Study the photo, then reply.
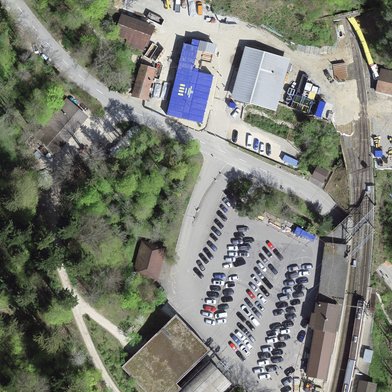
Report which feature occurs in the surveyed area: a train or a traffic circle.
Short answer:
train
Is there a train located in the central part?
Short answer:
No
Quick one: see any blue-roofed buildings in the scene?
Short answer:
Yes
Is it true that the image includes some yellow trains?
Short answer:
Yes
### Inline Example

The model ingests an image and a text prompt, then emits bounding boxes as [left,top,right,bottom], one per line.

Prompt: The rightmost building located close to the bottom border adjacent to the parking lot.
[306,302,340,380]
